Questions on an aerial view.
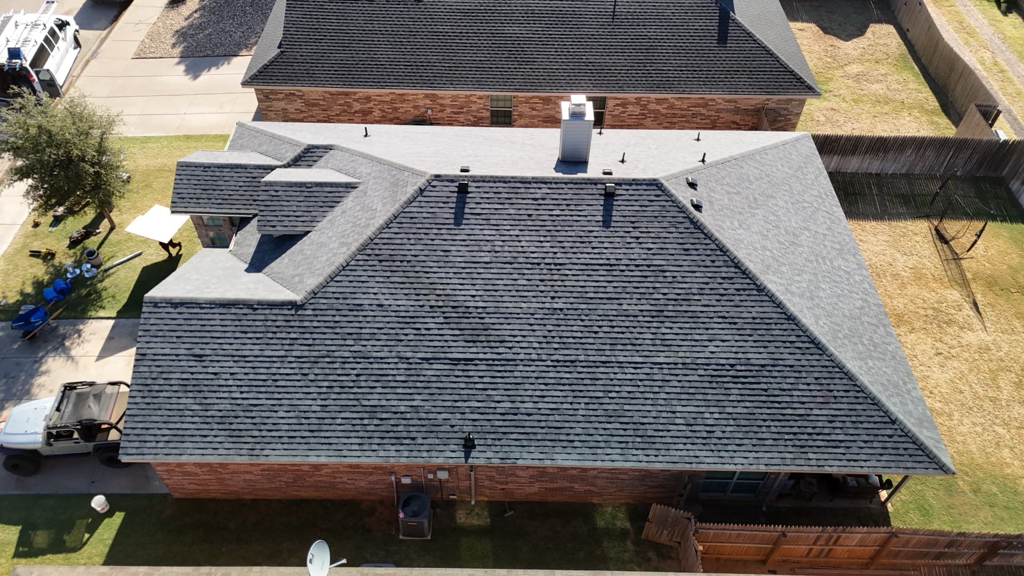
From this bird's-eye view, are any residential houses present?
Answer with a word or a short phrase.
Yes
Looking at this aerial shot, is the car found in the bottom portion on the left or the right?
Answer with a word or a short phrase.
left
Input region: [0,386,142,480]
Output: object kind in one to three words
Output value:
car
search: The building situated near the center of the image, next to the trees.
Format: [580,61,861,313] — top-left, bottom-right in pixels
[118,98,958,512]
